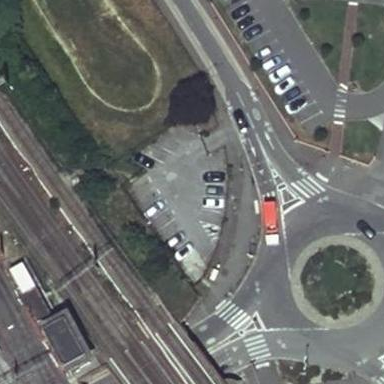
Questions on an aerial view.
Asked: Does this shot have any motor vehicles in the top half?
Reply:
Yes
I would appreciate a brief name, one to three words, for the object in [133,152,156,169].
car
